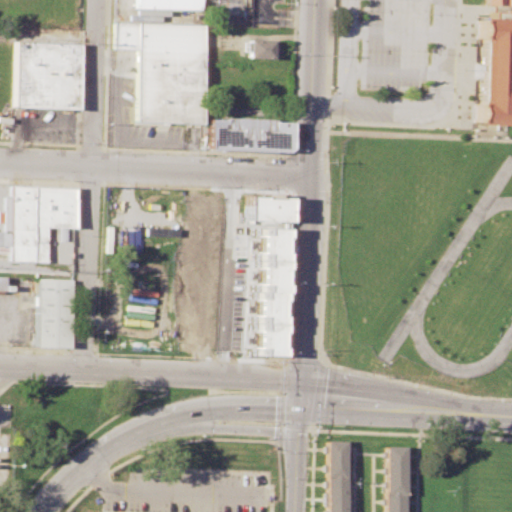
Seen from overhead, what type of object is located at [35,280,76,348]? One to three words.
building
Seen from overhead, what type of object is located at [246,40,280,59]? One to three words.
house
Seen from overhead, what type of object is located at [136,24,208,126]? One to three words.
building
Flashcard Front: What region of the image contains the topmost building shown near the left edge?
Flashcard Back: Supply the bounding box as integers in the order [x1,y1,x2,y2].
[14,43,86,111]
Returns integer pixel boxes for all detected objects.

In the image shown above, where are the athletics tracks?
[382,149,512,374]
